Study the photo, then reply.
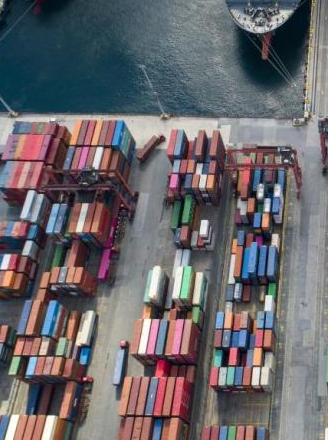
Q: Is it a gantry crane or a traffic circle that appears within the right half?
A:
gantry crane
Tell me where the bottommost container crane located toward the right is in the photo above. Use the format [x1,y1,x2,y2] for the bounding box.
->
[219,146,301,201]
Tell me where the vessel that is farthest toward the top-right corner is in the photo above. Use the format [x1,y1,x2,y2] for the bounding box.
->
[221,0,302,61]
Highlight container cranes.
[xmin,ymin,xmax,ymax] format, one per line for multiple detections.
[39,167,137,221]
[318,117,328,171]
[219,146,301,201]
